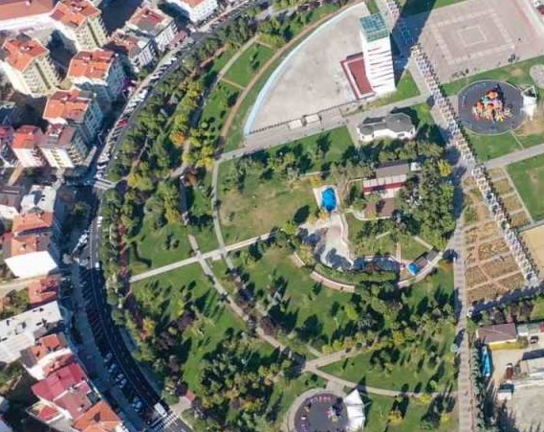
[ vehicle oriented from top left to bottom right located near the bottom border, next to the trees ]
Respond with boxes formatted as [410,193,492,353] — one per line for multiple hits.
[149,395,167,420]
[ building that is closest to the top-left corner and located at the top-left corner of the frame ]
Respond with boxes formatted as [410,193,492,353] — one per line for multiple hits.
[0,0,57,32]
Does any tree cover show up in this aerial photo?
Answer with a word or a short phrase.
Yes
